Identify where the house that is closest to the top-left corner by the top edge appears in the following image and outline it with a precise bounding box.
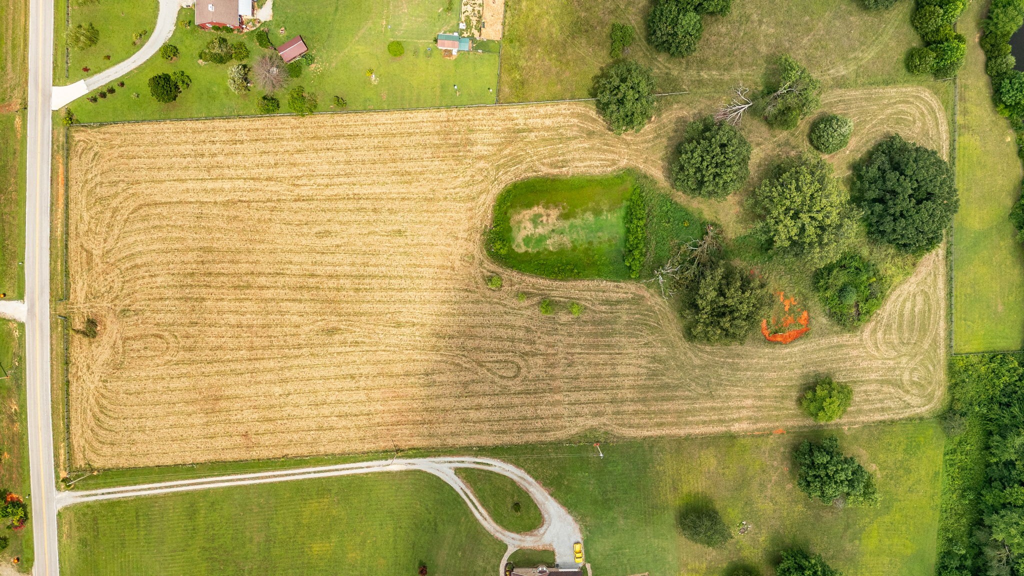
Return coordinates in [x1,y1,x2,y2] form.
[195,0,265,32]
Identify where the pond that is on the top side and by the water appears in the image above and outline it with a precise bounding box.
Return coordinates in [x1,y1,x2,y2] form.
[493,171,640,281]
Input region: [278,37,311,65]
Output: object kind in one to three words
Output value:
shed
